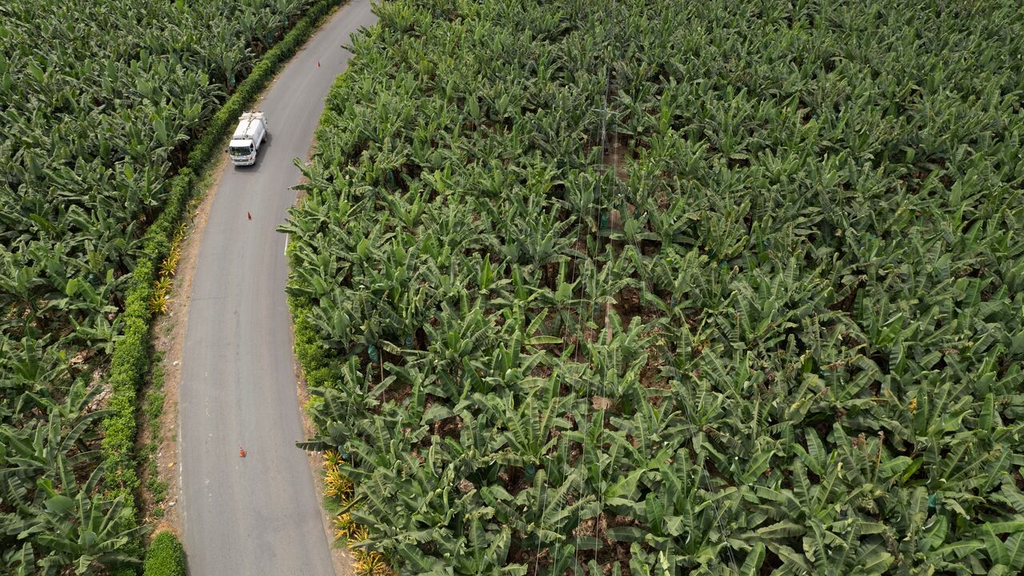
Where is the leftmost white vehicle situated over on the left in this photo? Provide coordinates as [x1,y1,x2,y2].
[226,109,271,163]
